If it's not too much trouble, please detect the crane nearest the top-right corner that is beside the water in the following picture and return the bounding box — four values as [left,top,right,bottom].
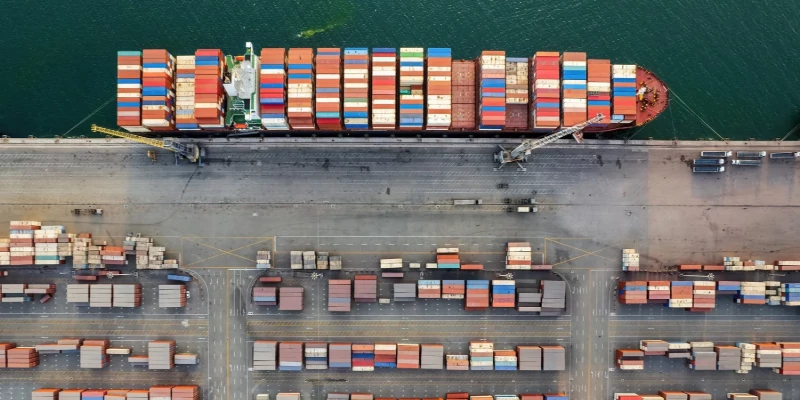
[494,112,605,170]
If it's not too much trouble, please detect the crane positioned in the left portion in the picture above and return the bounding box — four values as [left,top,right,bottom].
[91,121,208,168]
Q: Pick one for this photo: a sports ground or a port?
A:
port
